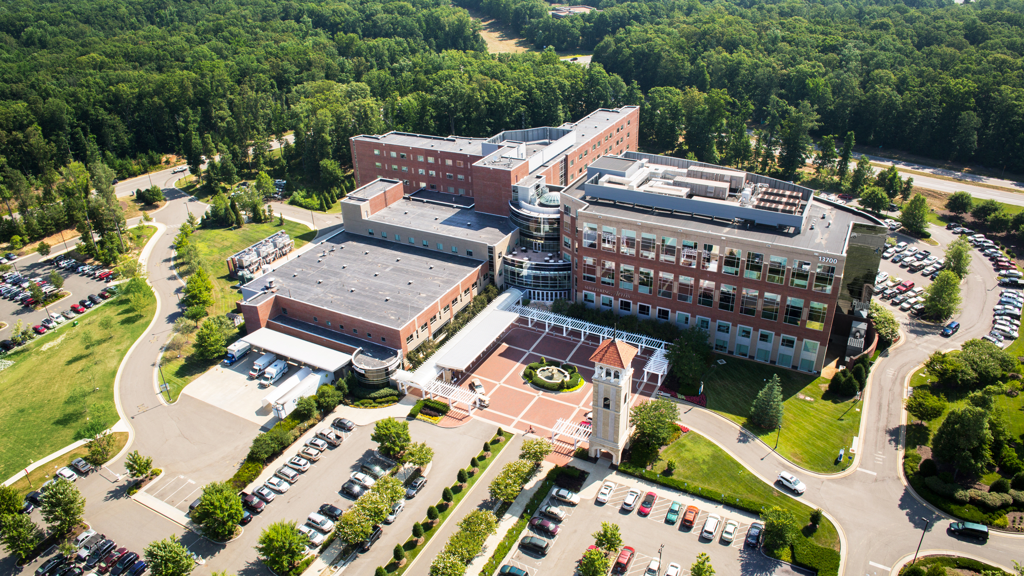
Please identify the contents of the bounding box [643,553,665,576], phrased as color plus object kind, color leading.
white car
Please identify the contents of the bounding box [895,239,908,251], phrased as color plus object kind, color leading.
white vehicle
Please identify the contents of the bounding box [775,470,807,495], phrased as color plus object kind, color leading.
white car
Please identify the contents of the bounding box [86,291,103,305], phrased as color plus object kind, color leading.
gray car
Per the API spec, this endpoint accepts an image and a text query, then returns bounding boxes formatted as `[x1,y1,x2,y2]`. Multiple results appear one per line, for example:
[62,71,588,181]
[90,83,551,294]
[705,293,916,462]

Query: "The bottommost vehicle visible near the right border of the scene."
[948,519,990,543]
